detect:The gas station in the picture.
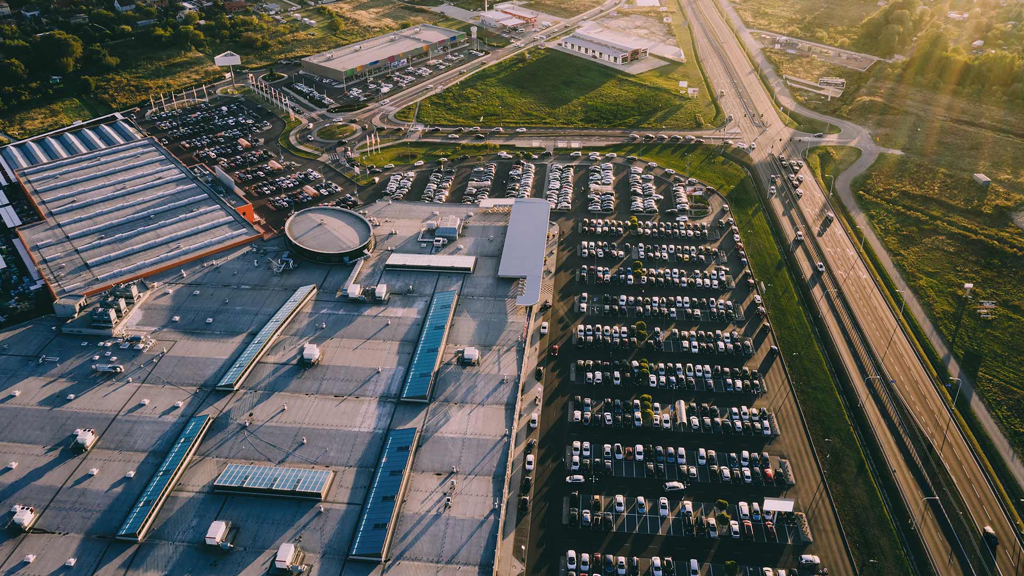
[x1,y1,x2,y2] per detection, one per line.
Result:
[480,2,538,31]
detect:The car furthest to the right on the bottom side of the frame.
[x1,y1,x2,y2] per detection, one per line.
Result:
[980,525,1000,545]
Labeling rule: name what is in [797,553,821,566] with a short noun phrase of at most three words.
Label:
vehicle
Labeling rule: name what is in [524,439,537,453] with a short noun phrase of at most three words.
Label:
vehicle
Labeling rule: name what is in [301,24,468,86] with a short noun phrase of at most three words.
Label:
building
